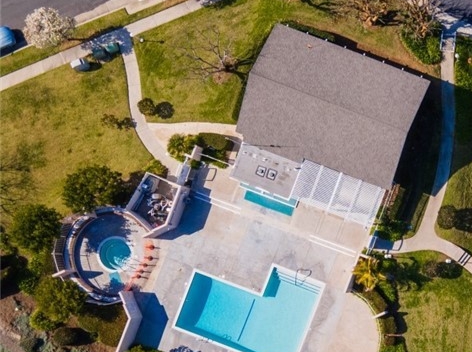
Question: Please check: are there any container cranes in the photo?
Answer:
No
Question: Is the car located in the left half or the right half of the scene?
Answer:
left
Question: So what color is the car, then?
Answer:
blue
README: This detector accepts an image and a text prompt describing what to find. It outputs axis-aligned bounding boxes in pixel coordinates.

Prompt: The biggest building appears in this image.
[230,24,431,208]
